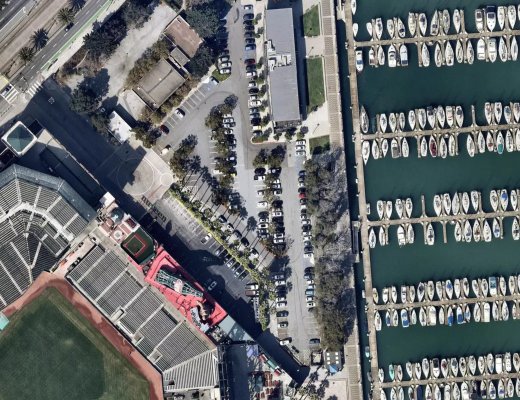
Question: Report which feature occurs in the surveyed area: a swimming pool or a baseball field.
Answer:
baseball field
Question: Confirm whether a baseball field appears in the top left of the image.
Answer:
No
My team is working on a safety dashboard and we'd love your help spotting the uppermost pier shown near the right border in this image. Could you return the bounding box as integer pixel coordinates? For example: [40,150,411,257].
[355,8,520,68]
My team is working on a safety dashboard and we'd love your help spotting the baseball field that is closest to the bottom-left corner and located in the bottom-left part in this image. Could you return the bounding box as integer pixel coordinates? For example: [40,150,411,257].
[0,264,166,400]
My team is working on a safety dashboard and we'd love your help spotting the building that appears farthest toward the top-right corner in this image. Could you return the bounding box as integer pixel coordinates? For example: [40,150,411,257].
[266,7,302,130]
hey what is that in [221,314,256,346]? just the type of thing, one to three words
building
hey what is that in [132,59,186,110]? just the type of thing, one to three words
building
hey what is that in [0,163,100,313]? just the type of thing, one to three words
stadium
